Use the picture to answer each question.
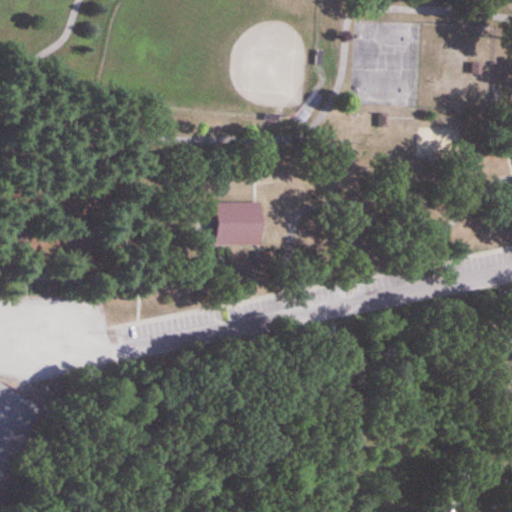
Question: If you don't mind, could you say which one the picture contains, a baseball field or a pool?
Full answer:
The one in the frame is a baseball field.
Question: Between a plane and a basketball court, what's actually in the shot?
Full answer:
The one in the frame is a basketball court.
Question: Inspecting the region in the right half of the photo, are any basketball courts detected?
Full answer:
Yes, a basketball court appears in the right half of the photo.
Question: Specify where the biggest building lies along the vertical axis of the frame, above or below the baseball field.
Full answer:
It's below the baseball field that the biggest building shows up.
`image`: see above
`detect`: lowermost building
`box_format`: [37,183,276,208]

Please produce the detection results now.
[217,202,262,245]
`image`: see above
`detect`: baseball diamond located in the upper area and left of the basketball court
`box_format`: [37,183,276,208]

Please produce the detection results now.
[230,20,307,108]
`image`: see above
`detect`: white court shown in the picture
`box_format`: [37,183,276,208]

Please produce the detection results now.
[352,22,419,106]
